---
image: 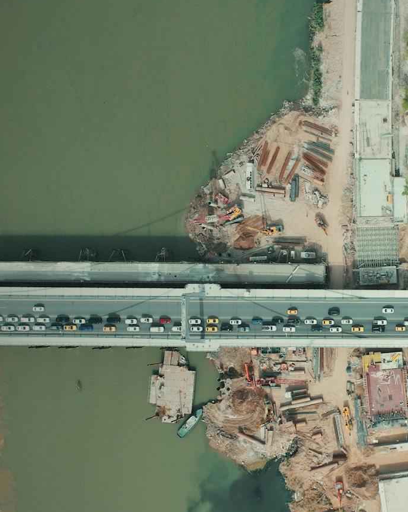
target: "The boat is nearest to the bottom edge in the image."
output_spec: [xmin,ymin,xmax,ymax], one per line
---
[176,411,201,438]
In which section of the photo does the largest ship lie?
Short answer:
bottom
